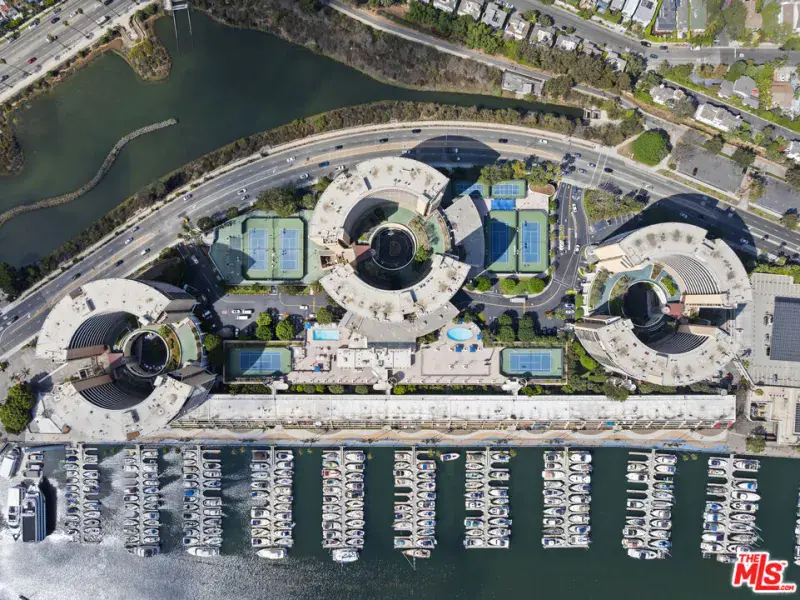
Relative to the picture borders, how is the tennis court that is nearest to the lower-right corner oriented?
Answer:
horizontally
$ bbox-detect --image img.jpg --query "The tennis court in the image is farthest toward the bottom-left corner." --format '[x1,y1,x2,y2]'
[227,347,291,379]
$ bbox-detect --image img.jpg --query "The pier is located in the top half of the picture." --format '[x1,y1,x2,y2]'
[0,117,179,223]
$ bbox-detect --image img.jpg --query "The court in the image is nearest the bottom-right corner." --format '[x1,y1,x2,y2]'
[501,348,565,379]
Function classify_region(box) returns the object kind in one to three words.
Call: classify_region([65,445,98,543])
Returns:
pier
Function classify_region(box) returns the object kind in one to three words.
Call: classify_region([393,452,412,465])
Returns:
boat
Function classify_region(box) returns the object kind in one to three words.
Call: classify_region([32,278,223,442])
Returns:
building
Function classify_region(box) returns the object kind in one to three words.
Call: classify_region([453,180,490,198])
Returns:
sports court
